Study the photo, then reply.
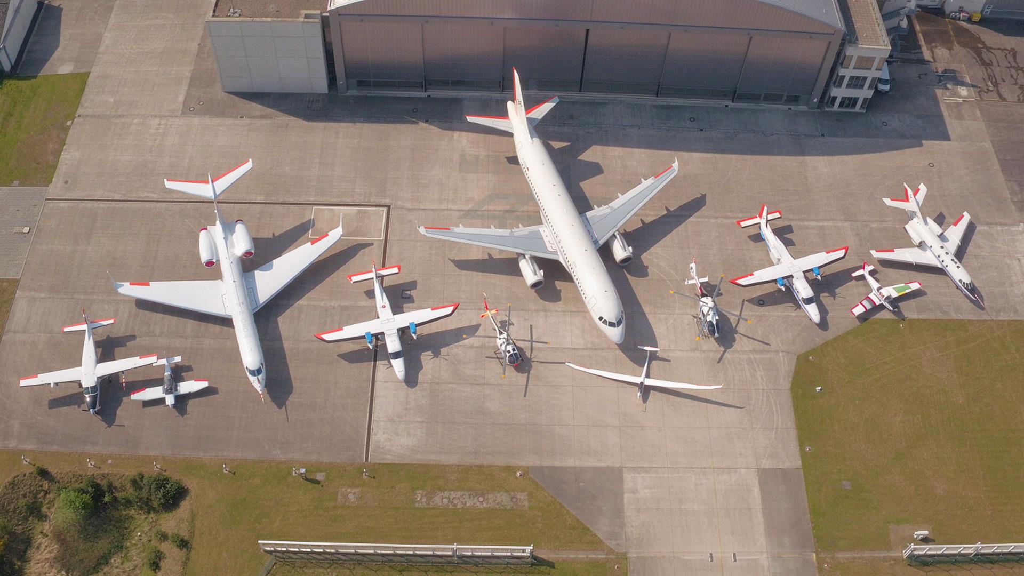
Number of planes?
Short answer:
nine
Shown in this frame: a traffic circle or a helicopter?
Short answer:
helicopter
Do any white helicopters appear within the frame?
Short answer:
Yes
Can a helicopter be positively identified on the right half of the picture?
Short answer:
Yes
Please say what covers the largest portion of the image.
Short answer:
paved ground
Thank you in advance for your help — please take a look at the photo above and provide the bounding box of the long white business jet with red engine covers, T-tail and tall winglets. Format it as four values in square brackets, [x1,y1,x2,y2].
[105,162,340,403]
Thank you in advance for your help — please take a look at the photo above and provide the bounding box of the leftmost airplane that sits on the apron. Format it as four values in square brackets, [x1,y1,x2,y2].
[18,306,158,417]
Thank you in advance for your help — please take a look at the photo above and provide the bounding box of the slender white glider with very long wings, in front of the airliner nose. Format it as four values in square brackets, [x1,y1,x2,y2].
[566,345,721,402]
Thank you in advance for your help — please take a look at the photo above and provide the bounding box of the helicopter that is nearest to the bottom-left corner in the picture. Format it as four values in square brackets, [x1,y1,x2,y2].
[466,295,551,377]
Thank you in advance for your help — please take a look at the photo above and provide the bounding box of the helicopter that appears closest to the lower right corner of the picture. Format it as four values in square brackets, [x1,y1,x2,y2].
[670,256,751,339]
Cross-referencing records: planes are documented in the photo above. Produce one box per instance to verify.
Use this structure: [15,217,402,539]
[850,262,922,315]
[422,66,680,345]
[18,306,158,417]
[130,355,208,408]
[314,257,459,382]
[725,199,850,324]
[566,345,721,402]
[866,183,983,311]
[105,162,340,403]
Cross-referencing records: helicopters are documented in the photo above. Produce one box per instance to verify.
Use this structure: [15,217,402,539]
[466,295,551,377]
[670,256,751,339]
